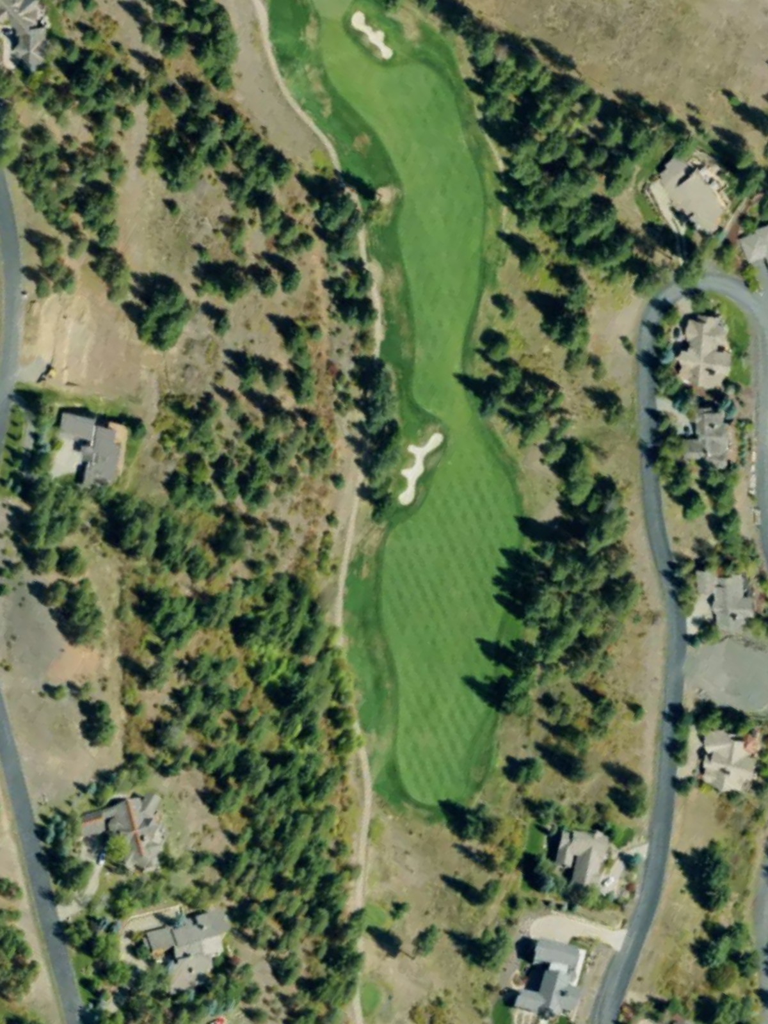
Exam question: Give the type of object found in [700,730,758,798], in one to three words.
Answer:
house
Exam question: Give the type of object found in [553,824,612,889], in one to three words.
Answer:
house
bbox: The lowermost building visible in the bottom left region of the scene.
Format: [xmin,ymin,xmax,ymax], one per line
[124,904,233,993]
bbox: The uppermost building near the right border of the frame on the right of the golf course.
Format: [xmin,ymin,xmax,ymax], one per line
[658,157,732,240]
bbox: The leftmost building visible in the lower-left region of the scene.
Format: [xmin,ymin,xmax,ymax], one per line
[81,789,168,875]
